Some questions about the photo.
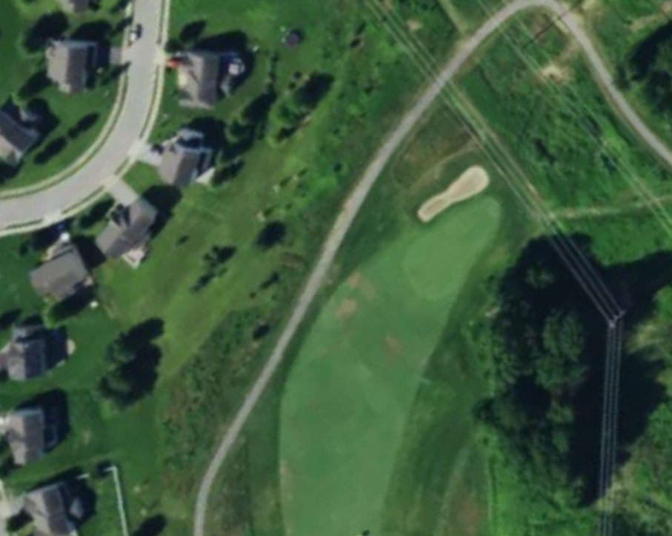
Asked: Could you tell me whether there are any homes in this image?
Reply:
Yes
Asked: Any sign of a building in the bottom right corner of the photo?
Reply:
No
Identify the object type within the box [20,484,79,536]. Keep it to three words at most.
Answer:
house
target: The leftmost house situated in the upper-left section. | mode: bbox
[0,104,36,166]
